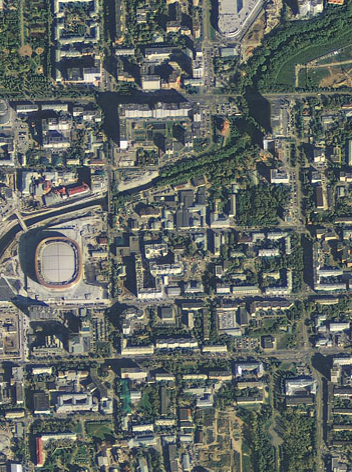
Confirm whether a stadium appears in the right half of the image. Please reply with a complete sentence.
No, no stadium is visible in the right half of the image.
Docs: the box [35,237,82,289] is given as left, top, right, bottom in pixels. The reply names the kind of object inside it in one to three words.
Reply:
stadium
